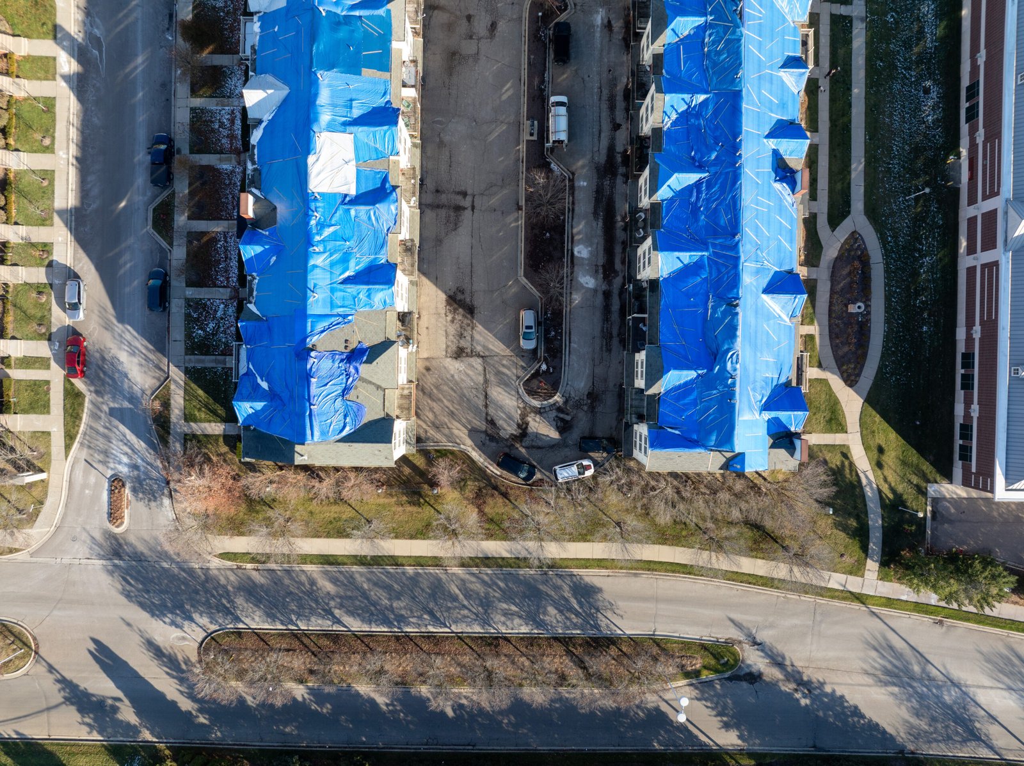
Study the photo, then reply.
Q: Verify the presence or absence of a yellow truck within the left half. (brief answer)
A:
No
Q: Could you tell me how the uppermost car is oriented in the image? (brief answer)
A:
from top to bottom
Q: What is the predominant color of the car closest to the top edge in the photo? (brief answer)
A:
black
